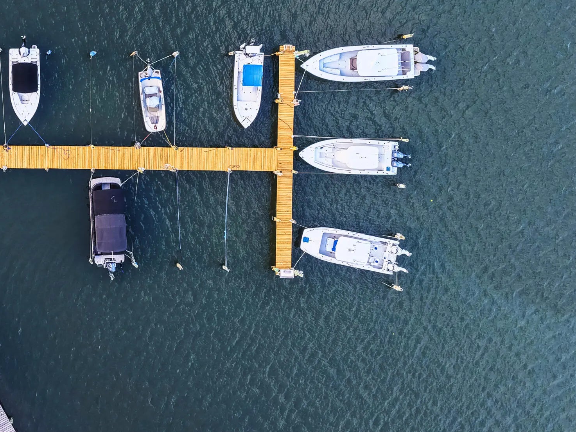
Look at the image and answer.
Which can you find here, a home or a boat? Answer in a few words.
boat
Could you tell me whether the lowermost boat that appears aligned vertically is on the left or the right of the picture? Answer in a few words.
left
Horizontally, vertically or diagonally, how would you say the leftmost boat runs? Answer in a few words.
vertically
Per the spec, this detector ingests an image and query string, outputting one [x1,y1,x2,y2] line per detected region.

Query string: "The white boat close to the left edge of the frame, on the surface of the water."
[9,33,40,126]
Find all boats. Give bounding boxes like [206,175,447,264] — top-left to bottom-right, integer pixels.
[90,176,128,281]
[295,139,415,174]
[139,56,166,132]
[9,33,40,126]
[299,227,413,274]
[231,39,265,128]
[297,42,436,83]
